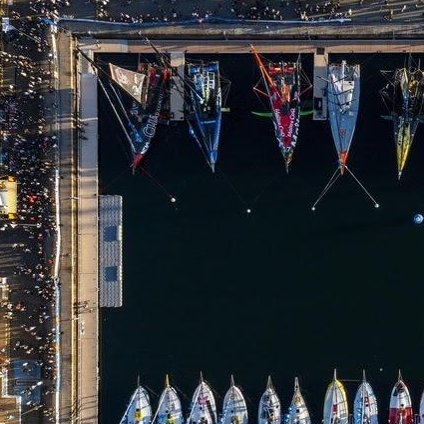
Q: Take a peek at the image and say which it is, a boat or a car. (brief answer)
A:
boat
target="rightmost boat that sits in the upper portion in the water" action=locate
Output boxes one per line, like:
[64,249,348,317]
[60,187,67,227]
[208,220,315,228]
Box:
[376,49,424,180]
